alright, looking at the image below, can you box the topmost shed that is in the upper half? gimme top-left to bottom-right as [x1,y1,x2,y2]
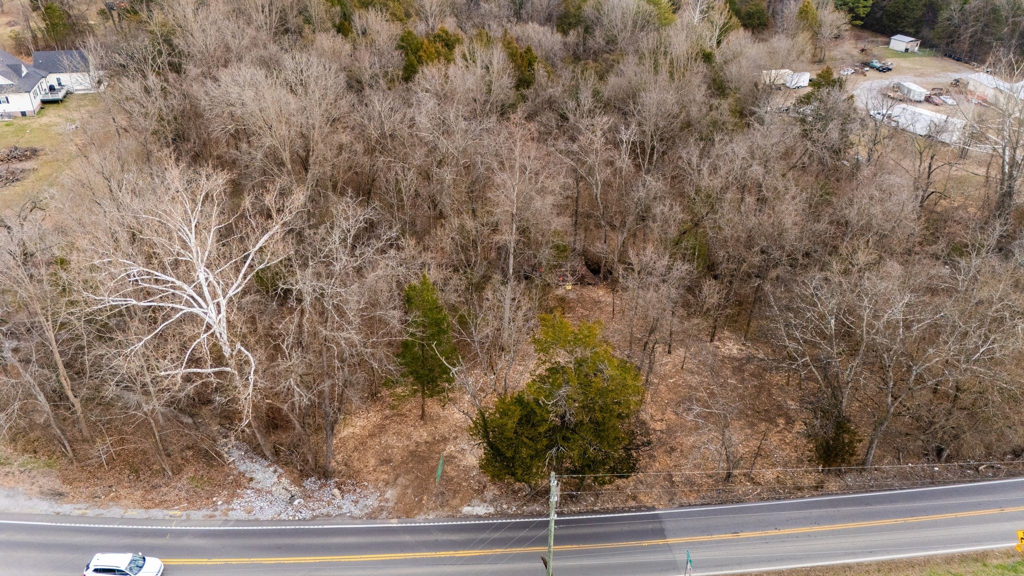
[889,30,930,53]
